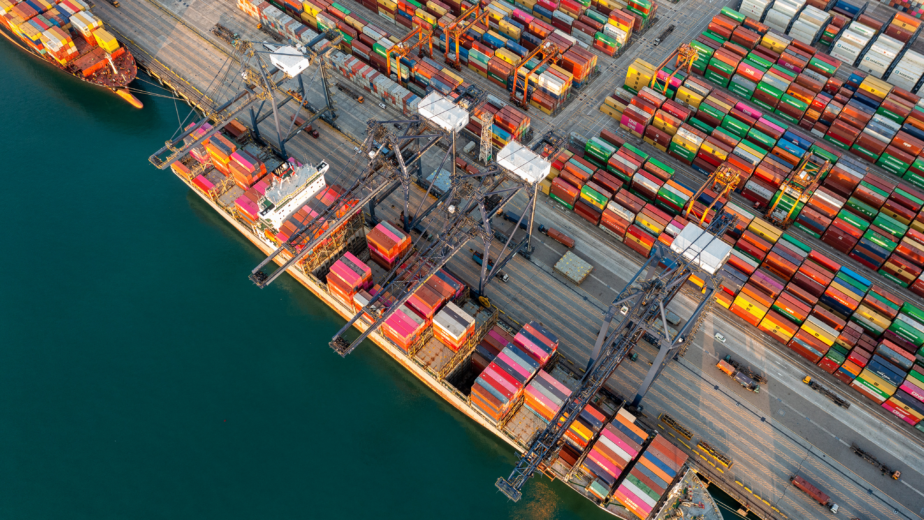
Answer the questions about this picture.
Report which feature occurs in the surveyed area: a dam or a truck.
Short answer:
truck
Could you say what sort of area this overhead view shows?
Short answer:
port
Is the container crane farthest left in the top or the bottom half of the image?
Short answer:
top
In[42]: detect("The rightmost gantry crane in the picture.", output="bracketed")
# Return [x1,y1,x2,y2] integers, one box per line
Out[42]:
[763,152,830,227]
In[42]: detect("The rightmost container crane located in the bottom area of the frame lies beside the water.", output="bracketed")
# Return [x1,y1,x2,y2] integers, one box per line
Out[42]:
[495,197,747,507]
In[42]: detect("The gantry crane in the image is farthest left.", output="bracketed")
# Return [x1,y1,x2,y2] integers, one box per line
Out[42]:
[146,27,346,171]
